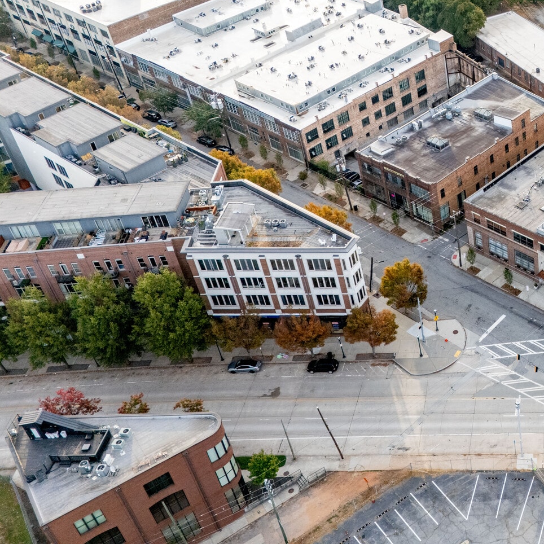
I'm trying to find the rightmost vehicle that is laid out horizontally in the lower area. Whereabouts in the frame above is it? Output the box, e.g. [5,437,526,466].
[305,357,340,375]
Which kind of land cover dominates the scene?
buildings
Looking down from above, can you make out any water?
No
